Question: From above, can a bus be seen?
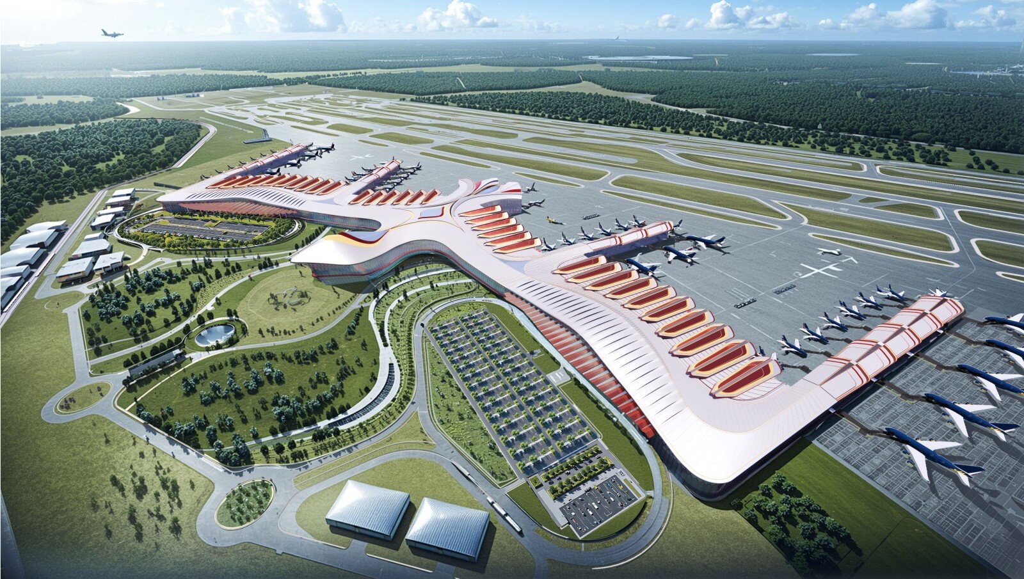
Yes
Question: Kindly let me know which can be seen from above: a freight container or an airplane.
airplane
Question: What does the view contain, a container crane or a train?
train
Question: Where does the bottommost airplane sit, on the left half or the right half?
right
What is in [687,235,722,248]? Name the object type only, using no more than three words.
airplane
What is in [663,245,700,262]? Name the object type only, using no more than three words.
airplane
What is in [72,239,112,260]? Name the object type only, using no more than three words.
building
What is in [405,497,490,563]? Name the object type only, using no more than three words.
hangar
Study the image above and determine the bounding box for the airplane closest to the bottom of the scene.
[886,427,985,482]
